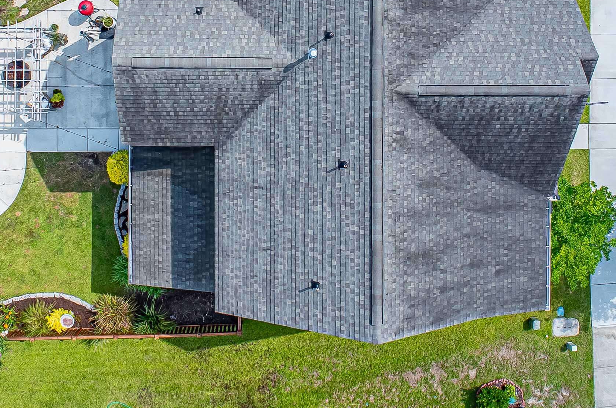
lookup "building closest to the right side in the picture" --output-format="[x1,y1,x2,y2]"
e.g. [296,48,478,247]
[112,0,609,345]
